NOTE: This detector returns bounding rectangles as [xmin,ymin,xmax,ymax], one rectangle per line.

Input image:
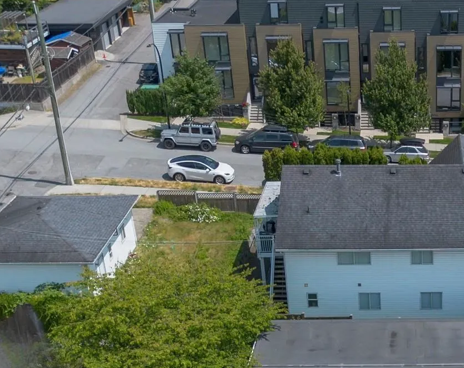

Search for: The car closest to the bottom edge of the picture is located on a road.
[163,155,234,185]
